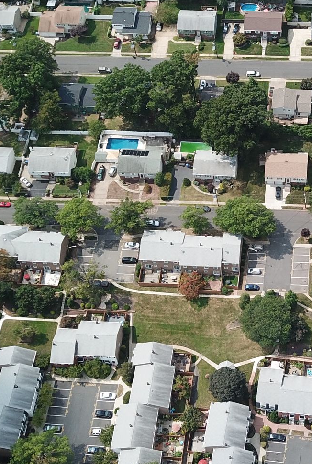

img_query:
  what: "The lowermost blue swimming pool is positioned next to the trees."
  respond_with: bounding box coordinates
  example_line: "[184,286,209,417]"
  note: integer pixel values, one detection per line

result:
[104,137,140,149]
